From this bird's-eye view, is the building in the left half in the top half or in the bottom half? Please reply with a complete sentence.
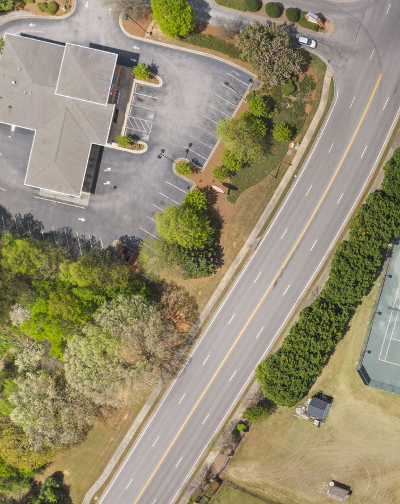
The building in the left half sits in the top half of the picture.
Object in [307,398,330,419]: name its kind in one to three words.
shed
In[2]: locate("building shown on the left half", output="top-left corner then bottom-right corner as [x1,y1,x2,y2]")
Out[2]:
[0,33,129,197]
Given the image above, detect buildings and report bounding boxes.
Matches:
[327,486,349,501]
[307,398,330,419]
[0,33,129,197]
